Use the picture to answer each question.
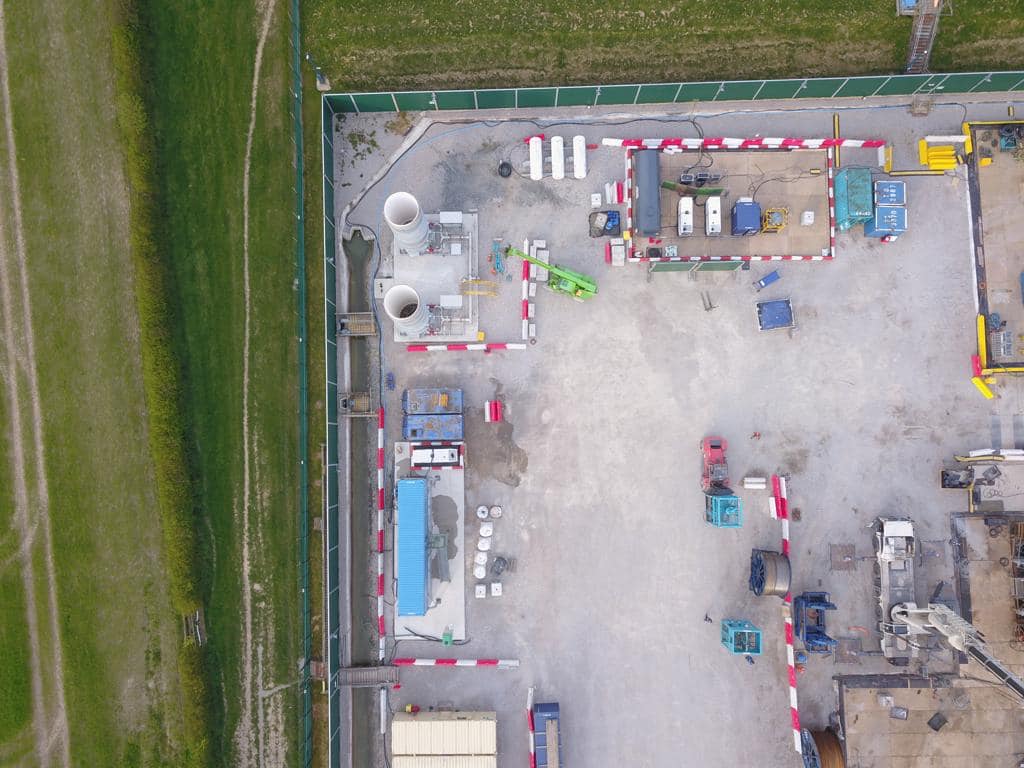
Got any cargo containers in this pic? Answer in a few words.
Yes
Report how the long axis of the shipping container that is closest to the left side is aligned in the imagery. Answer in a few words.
vertically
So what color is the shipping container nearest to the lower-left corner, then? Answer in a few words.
blue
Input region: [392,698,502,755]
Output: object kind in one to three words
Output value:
building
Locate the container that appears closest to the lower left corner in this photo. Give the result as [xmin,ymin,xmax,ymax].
[397,473,433,616]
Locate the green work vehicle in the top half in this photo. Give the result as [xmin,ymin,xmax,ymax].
[505,243,599,301]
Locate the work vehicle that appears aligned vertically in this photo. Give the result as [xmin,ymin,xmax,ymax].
[700,437,729,498]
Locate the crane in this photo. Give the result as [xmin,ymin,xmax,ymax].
[849,517,1024,701]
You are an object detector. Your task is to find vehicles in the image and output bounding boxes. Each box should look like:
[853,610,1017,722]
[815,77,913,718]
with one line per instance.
[505,243,599,301]
[700,437,729,498]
